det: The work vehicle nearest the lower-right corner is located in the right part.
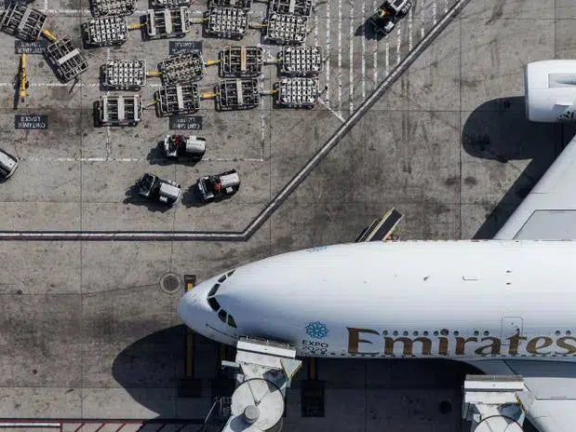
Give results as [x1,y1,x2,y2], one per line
[346,206,405,245]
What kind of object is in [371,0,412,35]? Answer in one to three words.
work vehicle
